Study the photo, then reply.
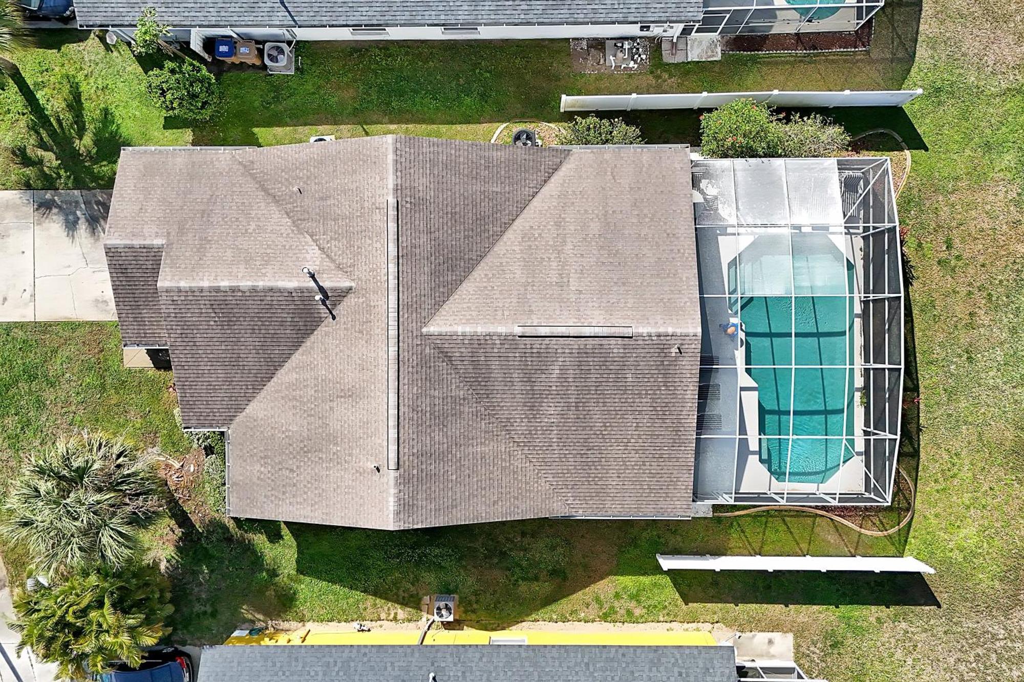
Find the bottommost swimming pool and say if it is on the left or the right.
right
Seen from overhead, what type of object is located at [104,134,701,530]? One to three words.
house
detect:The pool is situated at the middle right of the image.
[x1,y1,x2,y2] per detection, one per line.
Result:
[726,232,858,487]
